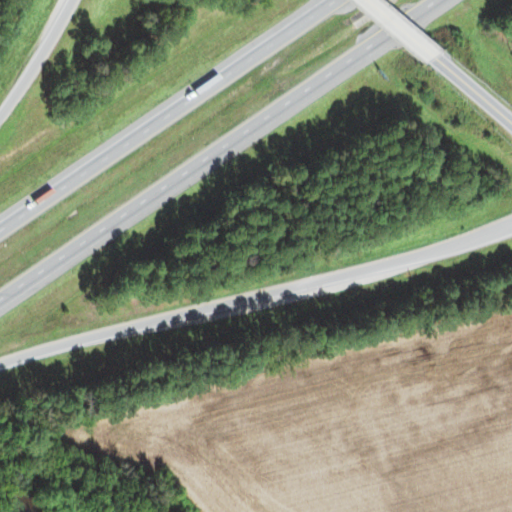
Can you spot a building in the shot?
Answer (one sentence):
No, there appears to be no building in this shot.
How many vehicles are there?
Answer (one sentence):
There are 2 vehicles in the image.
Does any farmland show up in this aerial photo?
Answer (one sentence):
Yes, the picture does contain farmland.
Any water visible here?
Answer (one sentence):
No, no water is visible.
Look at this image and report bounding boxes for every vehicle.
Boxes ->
[25,188,54,210]
[185,73,222,100]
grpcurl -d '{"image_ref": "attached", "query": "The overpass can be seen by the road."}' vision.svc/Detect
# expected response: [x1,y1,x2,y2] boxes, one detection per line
[354,0,449,68]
